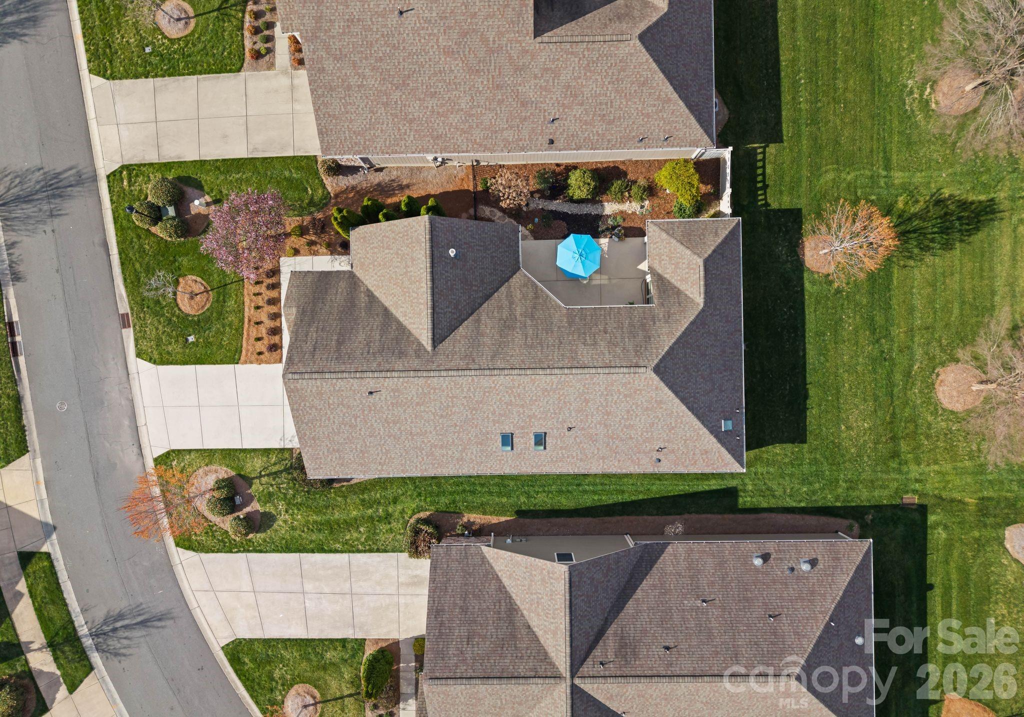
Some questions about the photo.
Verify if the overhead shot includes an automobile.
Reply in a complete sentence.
No, this view has no automobile in it.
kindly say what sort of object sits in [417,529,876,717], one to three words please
house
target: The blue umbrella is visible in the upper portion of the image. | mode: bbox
[556,234,601,277]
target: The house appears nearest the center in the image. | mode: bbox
[282,215,747,481]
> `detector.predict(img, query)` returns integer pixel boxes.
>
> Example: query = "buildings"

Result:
[282,215,747,481]
[417,529,876,717]
[276,0,718,174]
